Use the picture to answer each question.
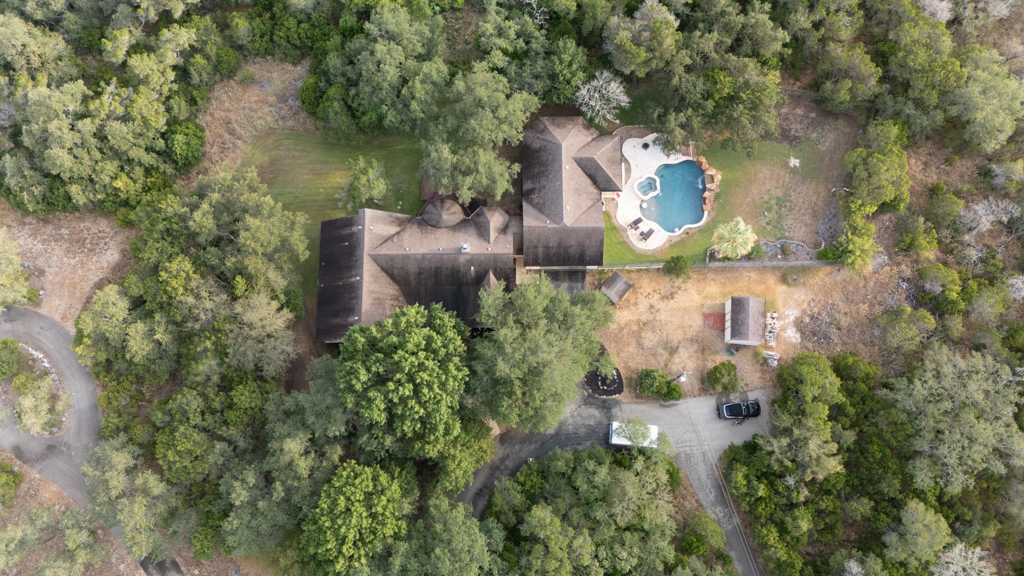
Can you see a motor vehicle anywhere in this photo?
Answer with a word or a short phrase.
Yes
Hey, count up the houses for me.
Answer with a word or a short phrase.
two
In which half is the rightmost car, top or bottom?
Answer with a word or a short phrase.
bottom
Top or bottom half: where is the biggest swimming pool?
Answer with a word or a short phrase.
top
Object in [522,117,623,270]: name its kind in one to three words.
house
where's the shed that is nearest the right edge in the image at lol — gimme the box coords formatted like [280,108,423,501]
[725,295,767,344]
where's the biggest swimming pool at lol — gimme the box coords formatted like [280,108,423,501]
[636,156,709,236]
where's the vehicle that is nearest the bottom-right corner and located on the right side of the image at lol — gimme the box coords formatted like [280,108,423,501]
[716,399,761,426]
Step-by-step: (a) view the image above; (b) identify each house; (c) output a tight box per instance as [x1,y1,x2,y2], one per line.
[314,195,514,343]
[522,117,623,270]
